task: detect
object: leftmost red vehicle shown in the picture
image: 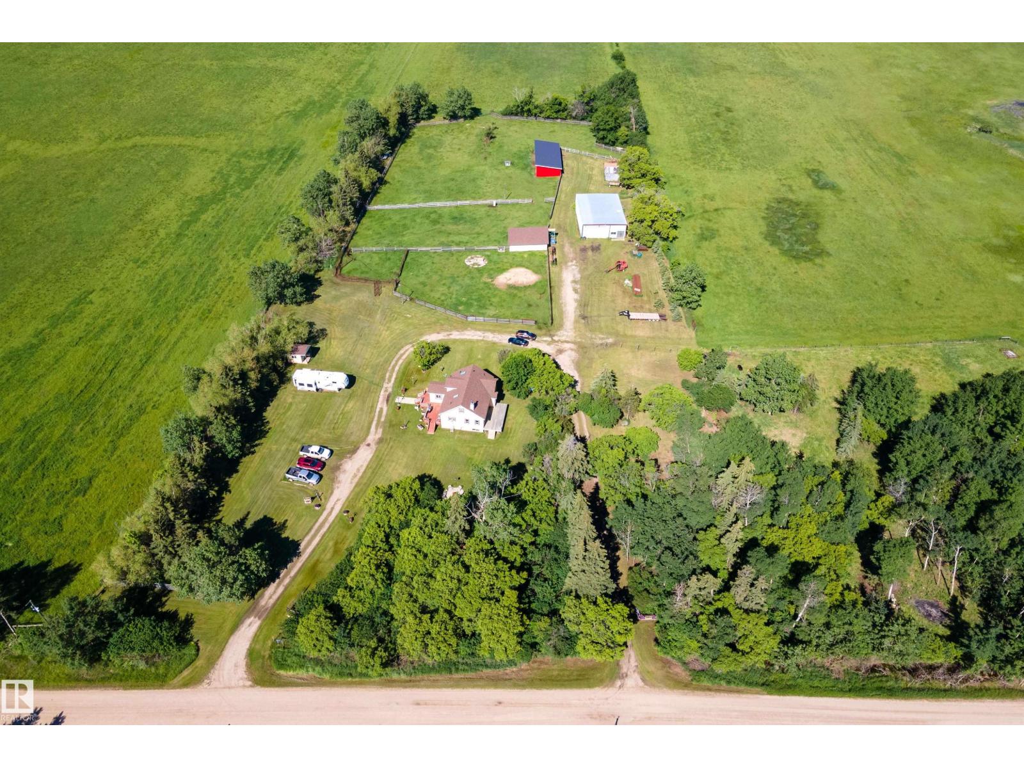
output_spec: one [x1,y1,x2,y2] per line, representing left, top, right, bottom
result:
[297,456,323,471]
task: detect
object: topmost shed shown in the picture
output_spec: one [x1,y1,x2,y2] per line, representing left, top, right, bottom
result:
[534,140,563,177]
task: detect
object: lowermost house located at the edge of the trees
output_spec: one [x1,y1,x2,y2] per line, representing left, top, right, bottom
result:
[416,364,510,438]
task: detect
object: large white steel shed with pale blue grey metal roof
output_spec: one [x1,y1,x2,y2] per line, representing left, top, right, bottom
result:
[575,193,628,240]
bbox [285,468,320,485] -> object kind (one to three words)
vehicle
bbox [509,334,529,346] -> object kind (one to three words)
vehicle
